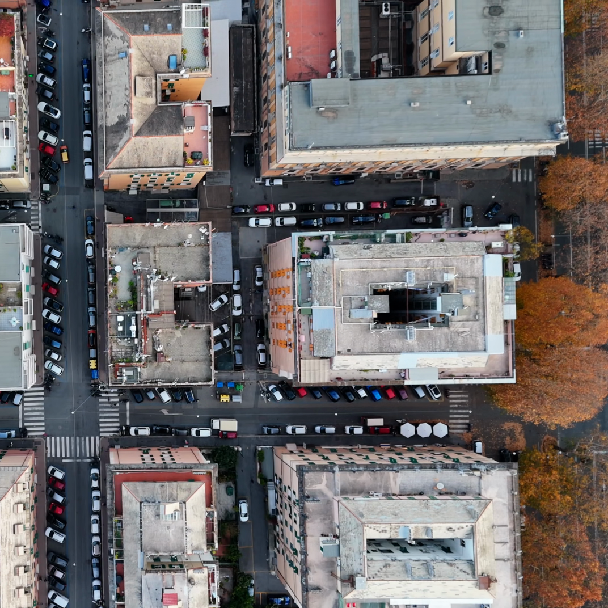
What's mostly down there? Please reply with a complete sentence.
The scene is dominated by buildings.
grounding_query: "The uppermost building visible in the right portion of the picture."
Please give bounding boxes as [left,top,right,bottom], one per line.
[250,0,567,174]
